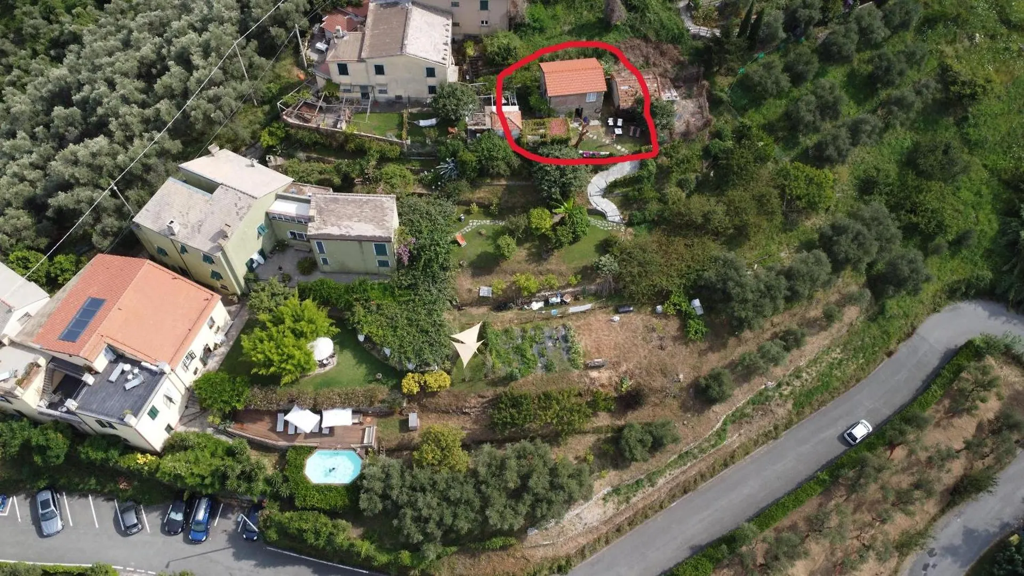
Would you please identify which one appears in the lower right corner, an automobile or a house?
automobile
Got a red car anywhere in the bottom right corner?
No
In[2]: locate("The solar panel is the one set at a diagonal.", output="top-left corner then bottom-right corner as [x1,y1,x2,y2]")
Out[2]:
[57,296,105,342]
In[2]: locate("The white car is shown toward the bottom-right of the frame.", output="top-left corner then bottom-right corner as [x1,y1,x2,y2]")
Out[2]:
[843,418,874,444]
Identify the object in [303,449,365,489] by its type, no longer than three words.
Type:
swimming pool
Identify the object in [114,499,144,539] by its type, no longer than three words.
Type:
car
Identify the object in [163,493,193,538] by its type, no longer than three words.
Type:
car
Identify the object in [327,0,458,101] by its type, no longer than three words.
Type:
house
